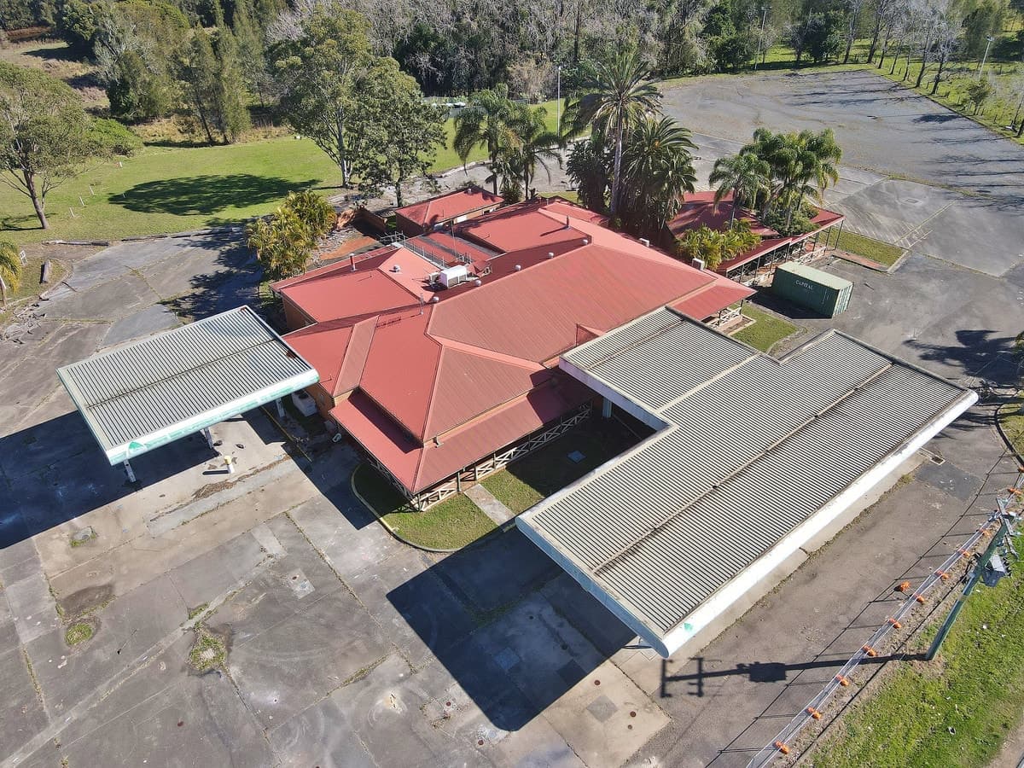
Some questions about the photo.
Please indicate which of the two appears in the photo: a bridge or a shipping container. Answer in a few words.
shipping container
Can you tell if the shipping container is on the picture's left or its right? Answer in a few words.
right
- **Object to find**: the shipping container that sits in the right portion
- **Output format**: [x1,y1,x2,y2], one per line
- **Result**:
[765,257,854,318]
